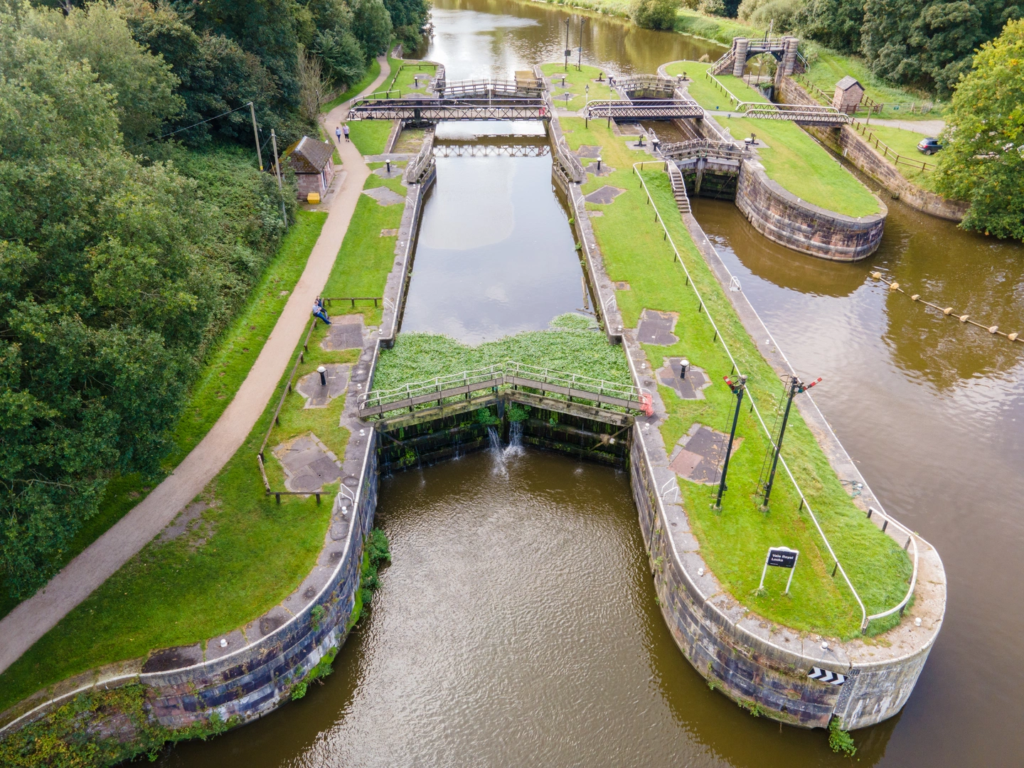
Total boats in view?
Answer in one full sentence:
I count no boats.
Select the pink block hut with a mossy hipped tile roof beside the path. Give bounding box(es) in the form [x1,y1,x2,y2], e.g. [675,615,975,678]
[268,137,336,203]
